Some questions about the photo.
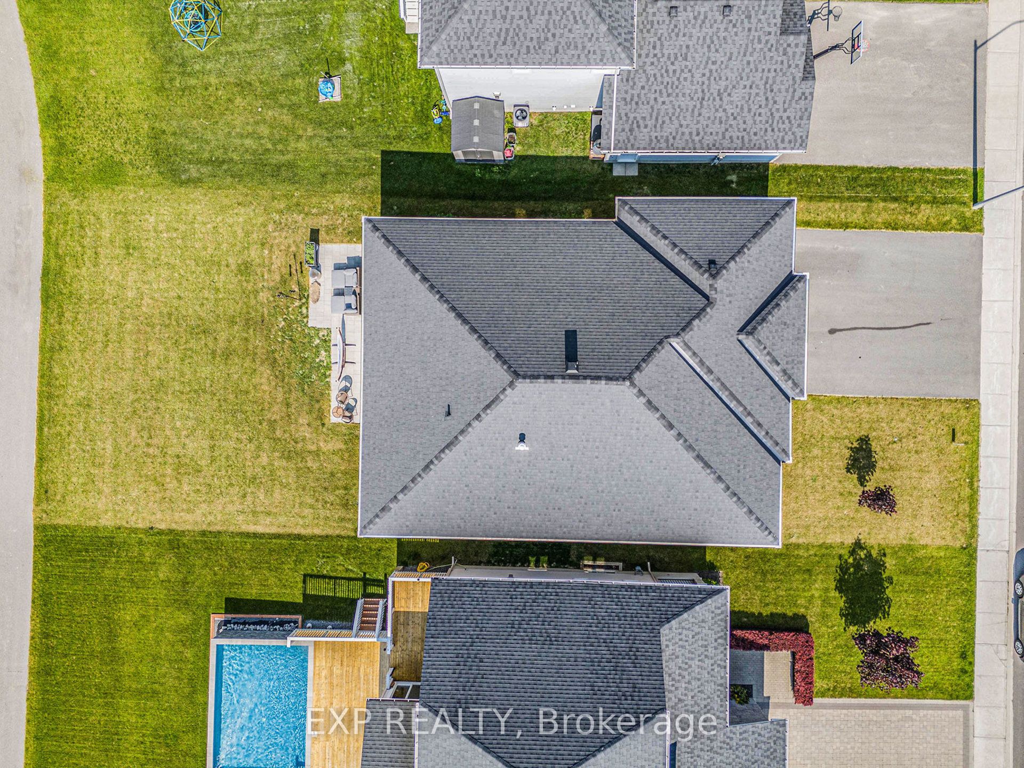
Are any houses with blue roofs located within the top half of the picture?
No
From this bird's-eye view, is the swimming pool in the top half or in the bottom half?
bottom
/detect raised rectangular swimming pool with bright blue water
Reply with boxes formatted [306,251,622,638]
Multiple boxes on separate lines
[208,628,314,768]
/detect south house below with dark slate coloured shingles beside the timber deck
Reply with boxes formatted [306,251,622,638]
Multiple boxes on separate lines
[361,552,788,768]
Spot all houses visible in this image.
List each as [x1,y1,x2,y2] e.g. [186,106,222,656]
[358,196,808,546]
[418,0,817,167]
[361,552,788,768]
